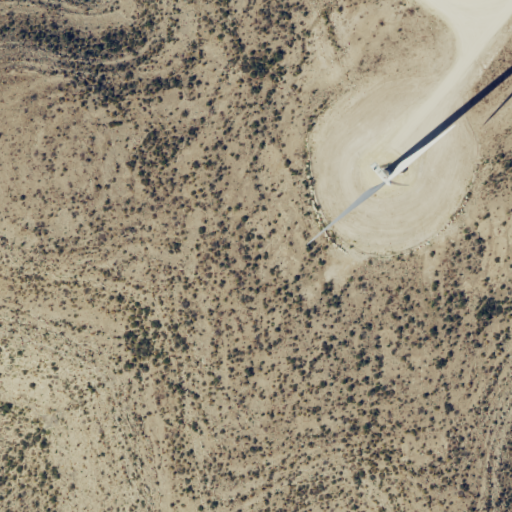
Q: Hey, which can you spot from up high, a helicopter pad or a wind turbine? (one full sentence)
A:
It is a wind turbine that can be seen here.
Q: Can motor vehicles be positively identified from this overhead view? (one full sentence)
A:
No, there's no motor vehicle here.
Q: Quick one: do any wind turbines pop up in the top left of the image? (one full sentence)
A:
No, I see no wind turbine in the top left of the image.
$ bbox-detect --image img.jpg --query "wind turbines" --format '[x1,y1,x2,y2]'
[308,126,456,245]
